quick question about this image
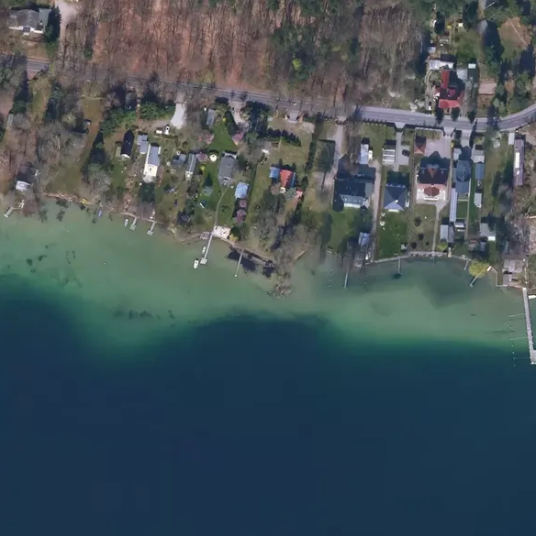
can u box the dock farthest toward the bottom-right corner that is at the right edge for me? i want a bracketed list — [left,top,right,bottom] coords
[523,287,536,364]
